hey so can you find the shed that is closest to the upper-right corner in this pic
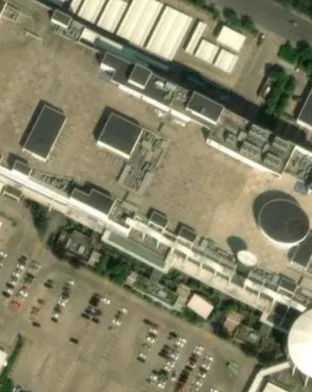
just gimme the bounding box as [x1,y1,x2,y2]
[216,26,246,53]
